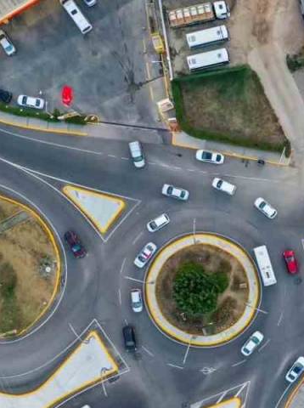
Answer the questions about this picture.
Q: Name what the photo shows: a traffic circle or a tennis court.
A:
traffic circle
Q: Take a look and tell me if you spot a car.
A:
Yes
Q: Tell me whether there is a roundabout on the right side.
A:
Yes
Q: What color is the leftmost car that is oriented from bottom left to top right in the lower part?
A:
white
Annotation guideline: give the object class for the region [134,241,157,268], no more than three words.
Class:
car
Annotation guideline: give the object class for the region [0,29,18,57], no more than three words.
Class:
car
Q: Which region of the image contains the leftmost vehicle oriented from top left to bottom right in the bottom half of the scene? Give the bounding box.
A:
[63,230,88,260]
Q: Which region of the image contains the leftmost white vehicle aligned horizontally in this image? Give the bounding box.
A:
[17,96,46,109]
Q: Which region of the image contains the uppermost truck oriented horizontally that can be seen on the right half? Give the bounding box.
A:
[168,1,232,29]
